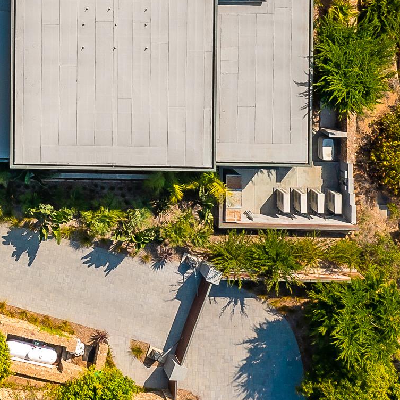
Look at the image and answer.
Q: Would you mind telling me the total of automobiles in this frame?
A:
0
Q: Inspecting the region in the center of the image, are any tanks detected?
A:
No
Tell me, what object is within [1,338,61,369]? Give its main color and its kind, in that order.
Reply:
white storage tank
